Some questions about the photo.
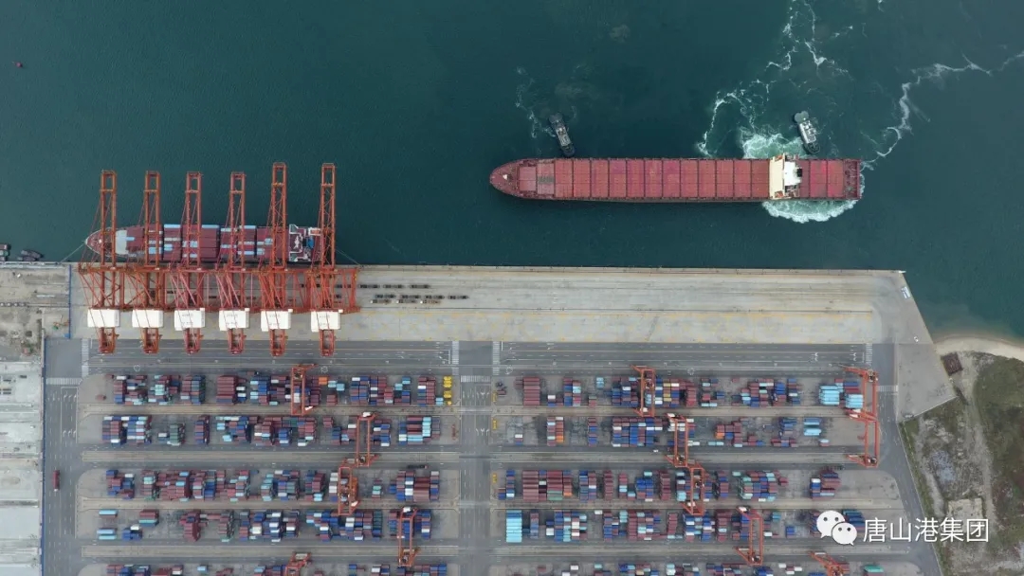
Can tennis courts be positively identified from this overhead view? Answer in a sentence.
No, there's no tennis court here.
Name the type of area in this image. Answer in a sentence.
This image shows a port.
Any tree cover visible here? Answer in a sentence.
No, there is no tree cover in the image.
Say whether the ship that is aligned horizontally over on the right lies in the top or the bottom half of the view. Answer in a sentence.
The top half of the photo is where the ship that is aligned horizontally over on the right is.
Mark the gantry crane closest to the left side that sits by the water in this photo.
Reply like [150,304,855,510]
[71,169,154,356]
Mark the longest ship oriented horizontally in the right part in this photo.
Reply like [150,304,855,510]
[490,150,861,203]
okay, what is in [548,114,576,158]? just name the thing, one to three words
boat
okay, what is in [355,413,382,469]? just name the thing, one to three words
crane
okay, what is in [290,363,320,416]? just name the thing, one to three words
crane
